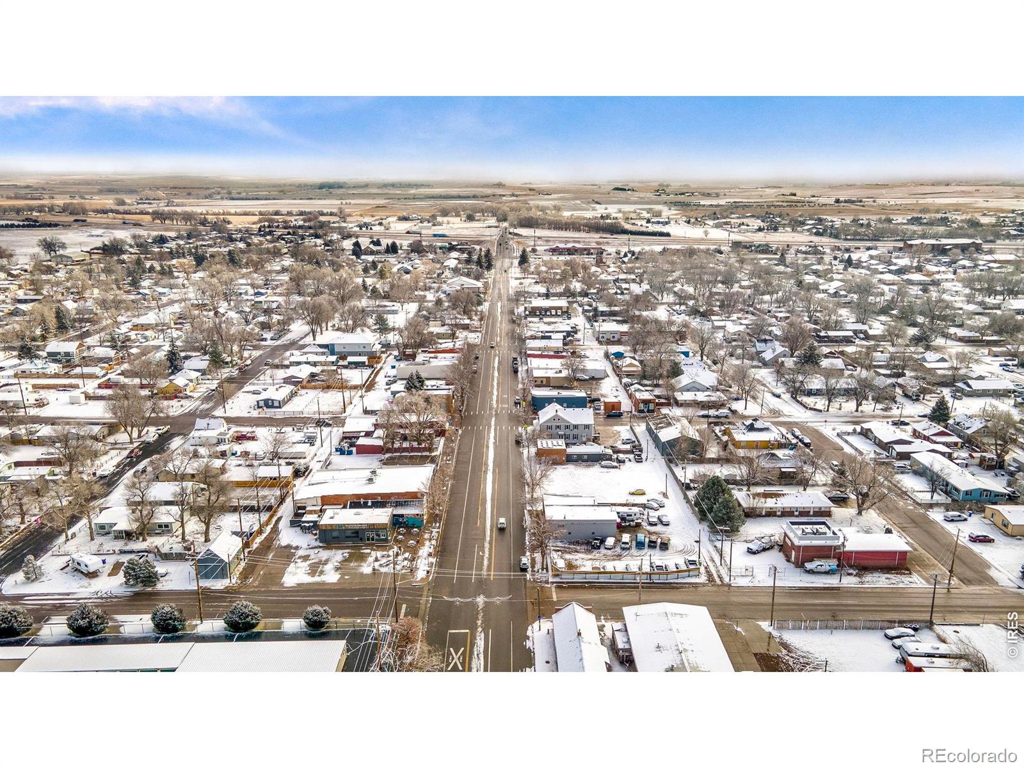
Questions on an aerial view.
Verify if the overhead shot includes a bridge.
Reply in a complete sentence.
No, I can see no bridge in this picture.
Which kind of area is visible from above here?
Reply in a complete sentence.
The area seen from above is a residential area.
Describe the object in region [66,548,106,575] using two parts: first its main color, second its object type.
white vehicle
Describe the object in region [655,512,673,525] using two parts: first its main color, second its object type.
white vehicle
